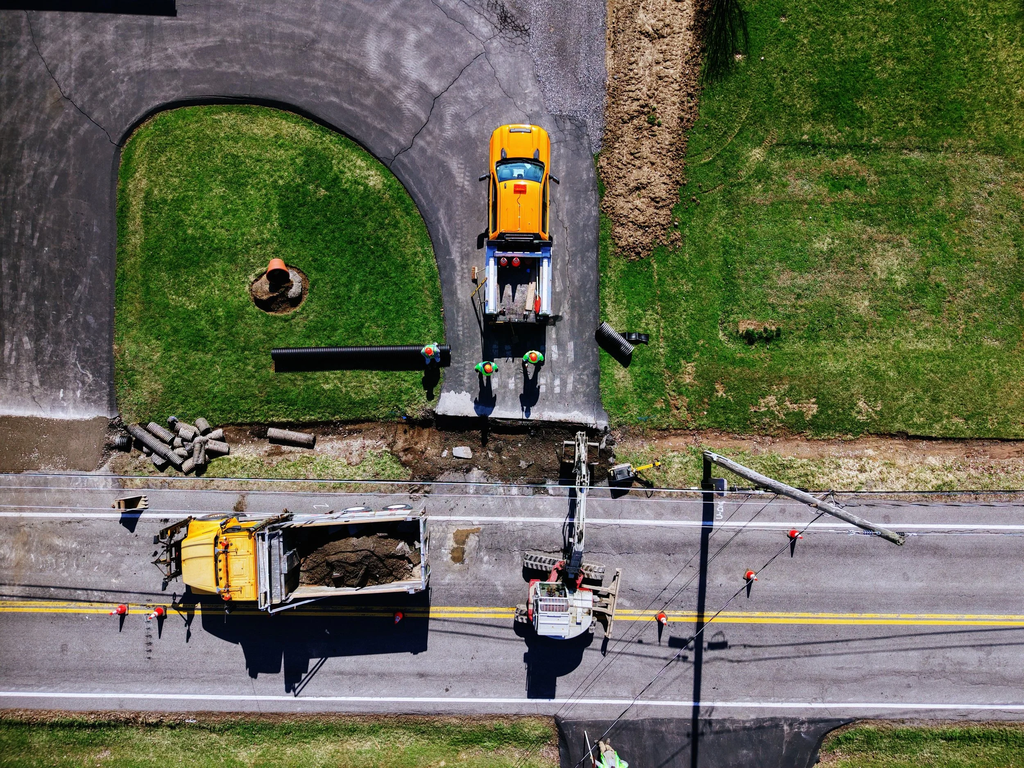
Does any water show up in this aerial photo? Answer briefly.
No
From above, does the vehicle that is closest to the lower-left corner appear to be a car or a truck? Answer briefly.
truck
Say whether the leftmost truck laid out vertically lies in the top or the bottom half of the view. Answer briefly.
top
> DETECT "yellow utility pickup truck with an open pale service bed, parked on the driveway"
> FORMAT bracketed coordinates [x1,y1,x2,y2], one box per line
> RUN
[478,121,561,327]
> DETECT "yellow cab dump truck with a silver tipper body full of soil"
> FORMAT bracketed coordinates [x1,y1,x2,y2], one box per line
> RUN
[149,501,435,620]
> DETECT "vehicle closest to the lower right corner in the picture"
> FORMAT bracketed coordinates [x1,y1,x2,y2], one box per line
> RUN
[513,429,627,641]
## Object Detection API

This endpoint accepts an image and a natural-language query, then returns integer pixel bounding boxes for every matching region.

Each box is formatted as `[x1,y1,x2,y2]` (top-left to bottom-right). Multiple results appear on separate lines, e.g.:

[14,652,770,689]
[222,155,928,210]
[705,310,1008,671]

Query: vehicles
[513,429,627,641]
[149,501,435,620]
[478,121,561,327]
